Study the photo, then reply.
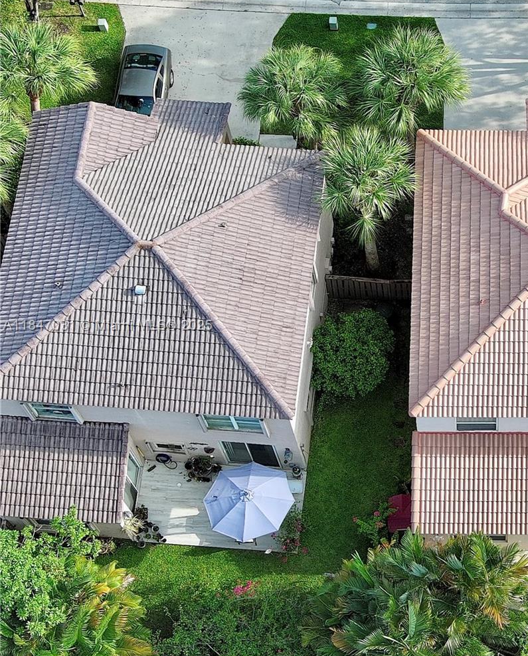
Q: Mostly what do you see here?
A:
buildings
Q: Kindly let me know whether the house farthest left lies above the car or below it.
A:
below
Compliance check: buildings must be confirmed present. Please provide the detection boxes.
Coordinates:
[0,99,334,536]
[408,94,528,549]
